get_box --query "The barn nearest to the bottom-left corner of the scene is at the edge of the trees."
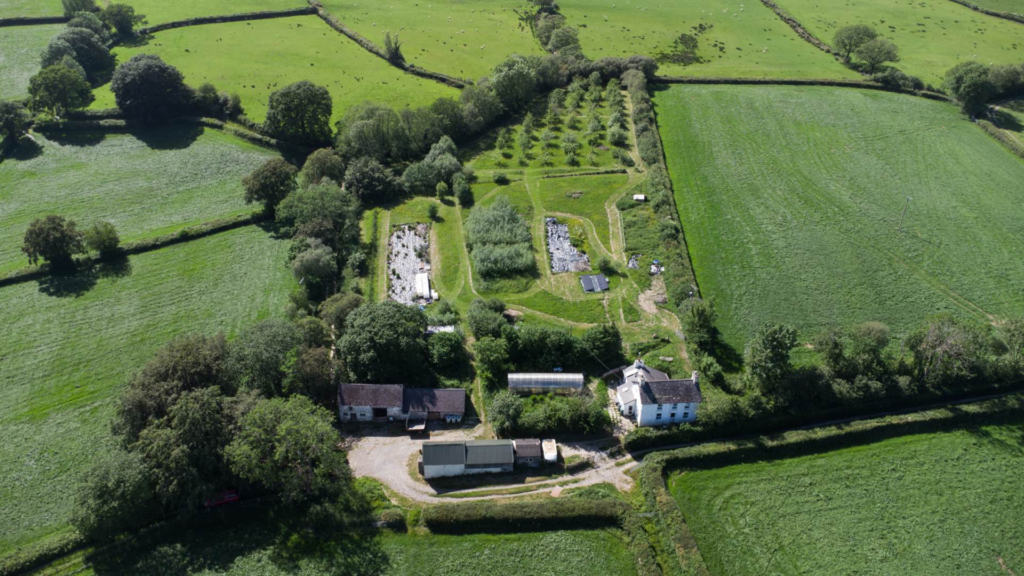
[335,379,409,421]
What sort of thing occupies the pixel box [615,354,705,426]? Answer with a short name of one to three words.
house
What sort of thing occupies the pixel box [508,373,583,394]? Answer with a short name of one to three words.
greenhouse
